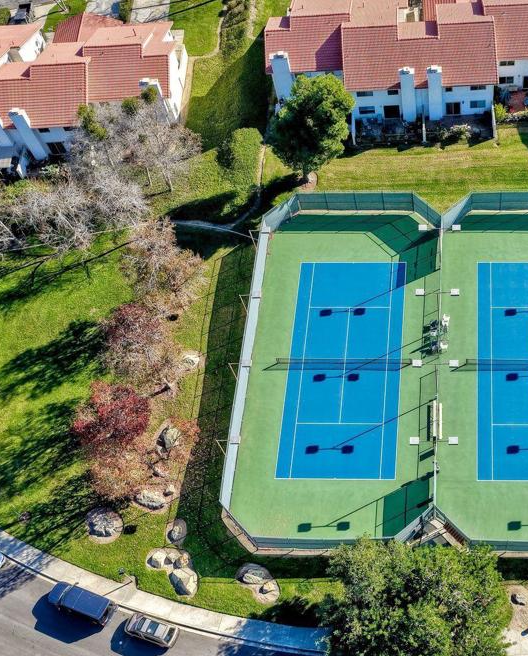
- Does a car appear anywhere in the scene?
Yes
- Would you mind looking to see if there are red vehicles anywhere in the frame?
No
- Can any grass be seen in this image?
Yes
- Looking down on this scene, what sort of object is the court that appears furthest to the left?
tennis court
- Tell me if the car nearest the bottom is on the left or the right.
left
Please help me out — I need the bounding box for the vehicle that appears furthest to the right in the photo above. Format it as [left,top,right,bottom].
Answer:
[122,613,182,649]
